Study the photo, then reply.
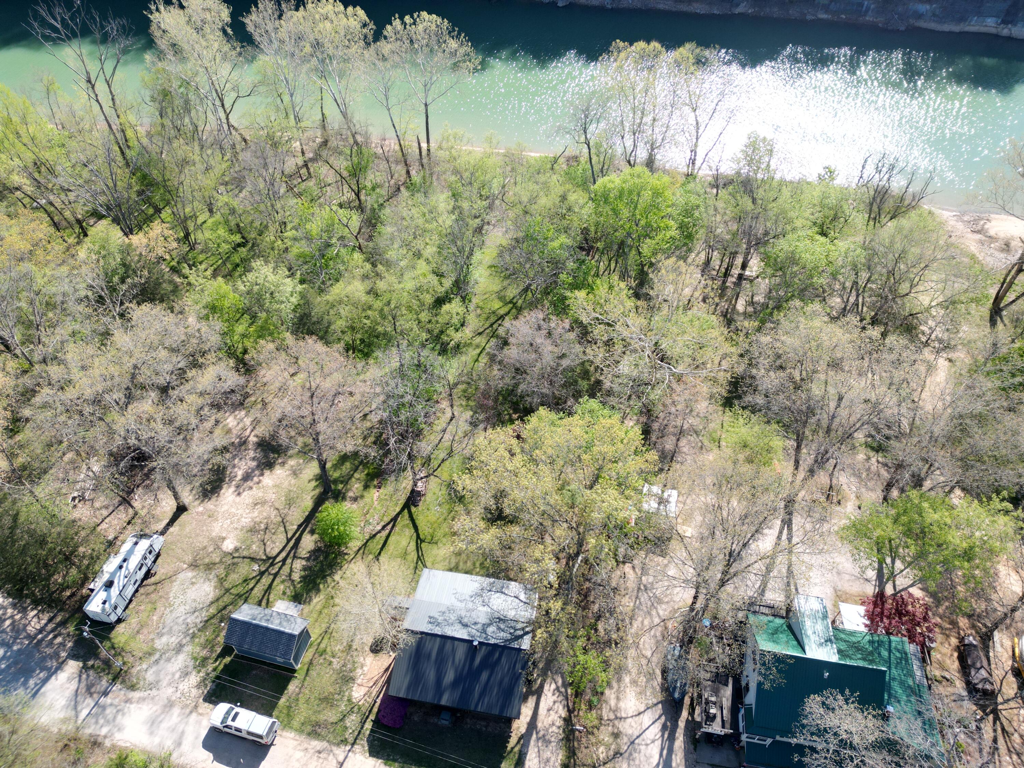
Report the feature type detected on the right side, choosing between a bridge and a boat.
boat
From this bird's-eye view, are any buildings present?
Yes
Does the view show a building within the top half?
No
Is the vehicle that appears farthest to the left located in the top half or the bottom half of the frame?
bottom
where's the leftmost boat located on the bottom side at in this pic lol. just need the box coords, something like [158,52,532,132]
[661,638,687,716]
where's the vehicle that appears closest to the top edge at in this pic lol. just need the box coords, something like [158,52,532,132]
[84,532,165,629]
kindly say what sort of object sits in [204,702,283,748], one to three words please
truck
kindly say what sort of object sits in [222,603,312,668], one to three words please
shed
